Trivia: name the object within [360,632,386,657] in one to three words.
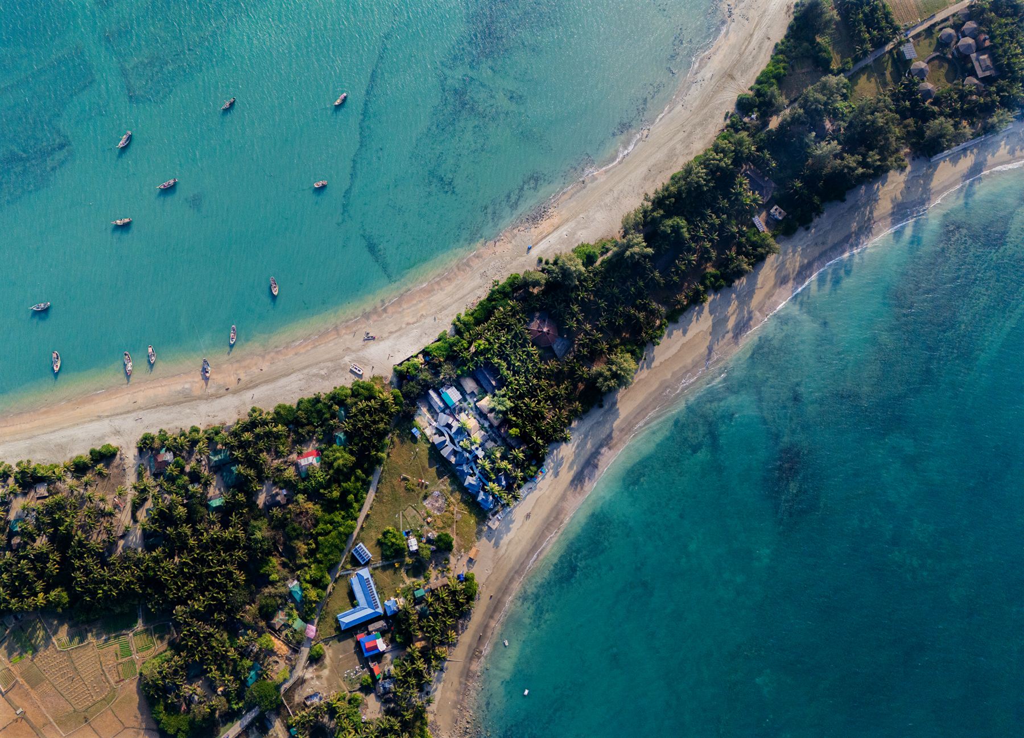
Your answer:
house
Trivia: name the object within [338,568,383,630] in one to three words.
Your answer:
building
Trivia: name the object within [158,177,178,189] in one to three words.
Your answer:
boat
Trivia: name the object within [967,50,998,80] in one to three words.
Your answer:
house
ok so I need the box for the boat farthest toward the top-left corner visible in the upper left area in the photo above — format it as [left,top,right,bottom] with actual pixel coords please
[117,130,132,148]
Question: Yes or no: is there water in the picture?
Yes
